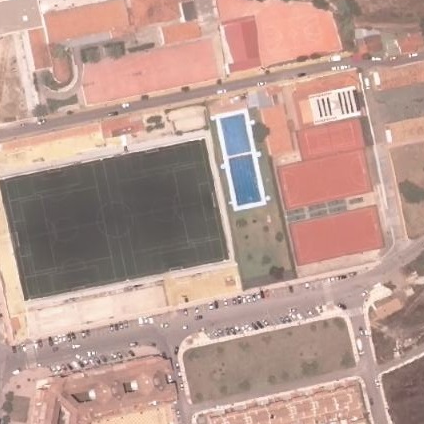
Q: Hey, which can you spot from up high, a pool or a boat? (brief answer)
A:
pool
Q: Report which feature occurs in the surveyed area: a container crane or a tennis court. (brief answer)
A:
tennis court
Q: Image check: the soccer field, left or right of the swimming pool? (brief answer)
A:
on the left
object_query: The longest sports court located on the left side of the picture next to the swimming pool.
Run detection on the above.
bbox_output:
[83,37,219,104]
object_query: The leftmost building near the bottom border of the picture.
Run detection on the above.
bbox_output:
[27,354,180,424]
